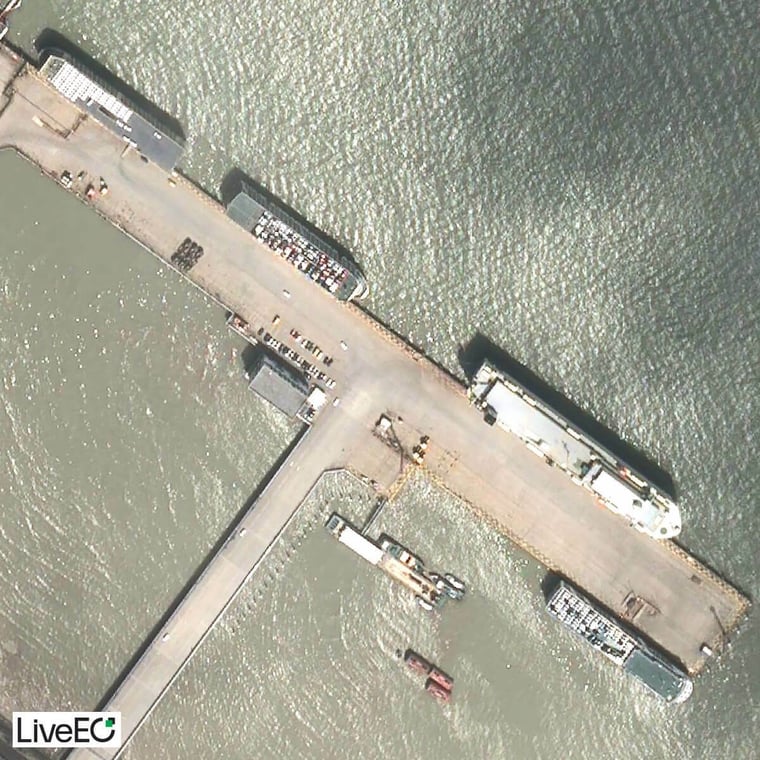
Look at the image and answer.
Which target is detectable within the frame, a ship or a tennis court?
ship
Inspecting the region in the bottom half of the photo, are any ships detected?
Yes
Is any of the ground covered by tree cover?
No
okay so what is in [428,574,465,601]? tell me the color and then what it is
white boat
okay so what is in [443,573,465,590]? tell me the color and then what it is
white boat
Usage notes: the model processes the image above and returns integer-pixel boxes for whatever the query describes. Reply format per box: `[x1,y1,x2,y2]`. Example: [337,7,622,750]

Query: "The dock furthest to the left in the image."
[0,42,24,110]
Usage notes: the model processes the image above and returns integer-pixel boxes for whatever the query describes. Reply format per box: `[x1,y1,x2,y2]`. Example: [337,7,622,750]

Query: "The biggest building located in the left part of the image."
[248,354,309,418]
